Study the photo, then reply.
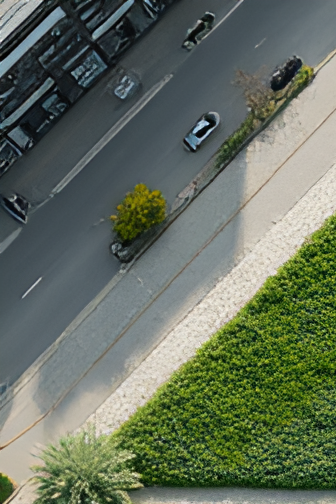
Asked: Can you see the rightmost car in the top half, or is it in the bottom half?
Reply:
top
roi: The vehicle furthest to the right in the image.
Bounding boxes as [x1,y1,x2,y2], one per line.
[267,55,304,91]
